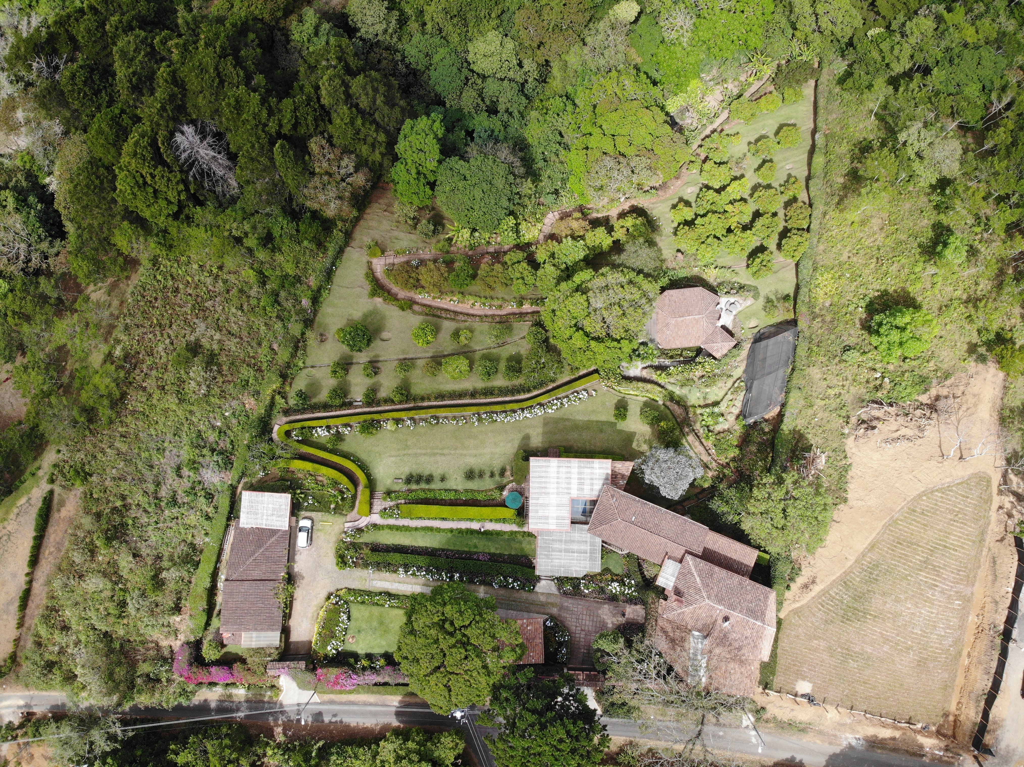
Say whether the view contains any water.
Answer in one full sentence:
No, the scene doesn't show any water.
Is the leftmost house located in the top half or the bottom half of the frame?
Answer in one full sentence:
The leftmost house sits in the bottom half of the picture.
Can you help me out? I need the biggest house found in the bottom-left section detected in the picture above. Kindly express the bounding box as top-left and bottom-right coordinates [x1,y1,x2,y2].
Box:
[220,488,298,648]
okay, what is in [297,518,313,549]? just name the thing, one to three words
car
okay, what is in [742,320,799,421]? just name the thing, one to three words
house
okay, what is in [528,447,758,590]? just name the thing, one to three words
house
